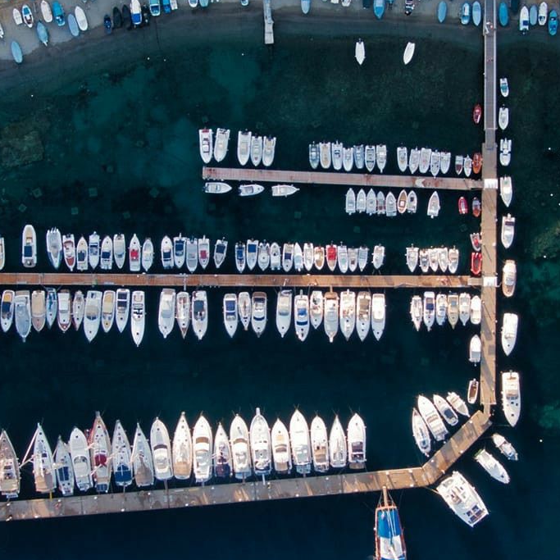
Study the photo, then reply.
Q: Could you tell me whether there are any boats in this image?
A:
Yes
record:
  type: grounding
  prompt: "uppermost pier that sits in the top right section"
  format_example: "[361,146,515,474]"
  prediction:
[482,0,495,149]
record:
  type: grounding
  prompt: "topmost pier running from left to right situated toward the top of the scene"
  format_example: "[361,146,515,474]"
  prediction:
[203,167,482,189]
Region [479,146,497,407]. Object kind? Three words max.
pier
